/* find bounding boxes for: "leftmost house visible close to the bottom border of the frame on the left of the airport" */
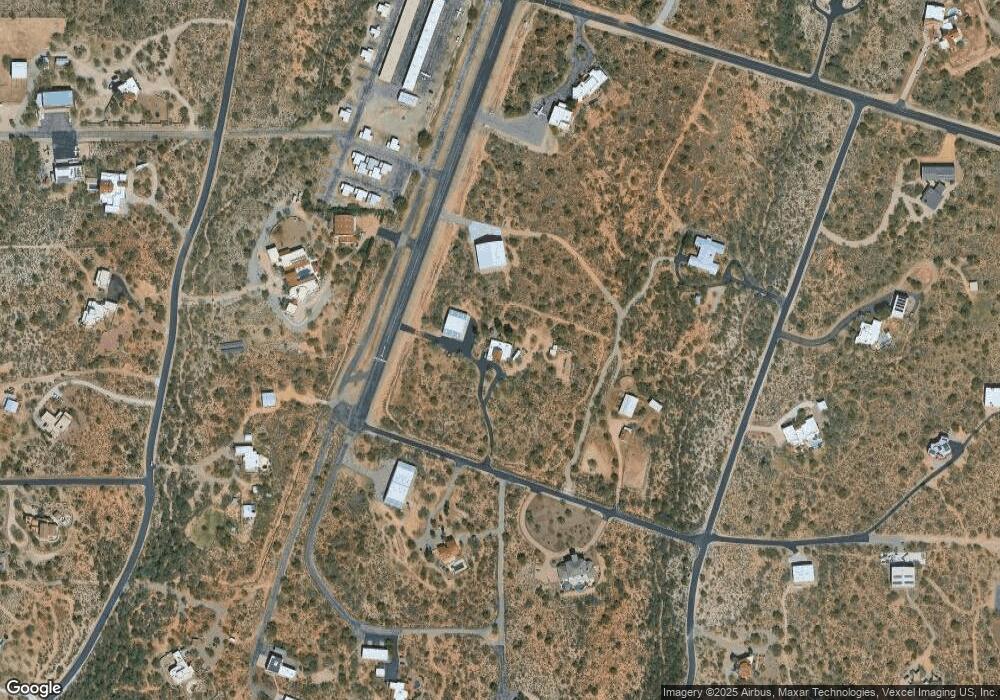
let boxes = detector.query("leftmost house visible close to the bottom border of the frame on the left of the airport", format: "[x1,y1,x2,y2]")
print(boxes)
[170,651,194,684]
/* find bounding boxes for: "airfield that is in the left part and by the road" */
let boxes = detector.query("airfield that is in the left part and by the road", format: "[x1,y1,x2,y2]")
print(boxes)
[245,0,517,700]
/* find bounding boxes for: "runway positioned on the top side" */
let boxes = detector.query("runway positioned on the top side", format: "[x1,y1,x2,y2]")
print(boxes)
[353,0,517,423]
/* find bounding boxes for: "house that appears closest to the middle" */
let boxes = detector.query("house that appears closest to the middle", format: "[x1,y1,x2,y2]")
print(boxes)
[487,340,512,360]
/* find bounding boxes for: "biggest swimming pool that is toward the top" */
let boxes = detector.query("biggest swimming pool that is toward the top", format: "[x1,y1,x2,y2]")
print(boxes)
[296,265,314,281]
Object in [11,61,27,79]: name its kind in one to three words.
shed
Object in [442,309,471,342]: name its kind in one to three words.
hangar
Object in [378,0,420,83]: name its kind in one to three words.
building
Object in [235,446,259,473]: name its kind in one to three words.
house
